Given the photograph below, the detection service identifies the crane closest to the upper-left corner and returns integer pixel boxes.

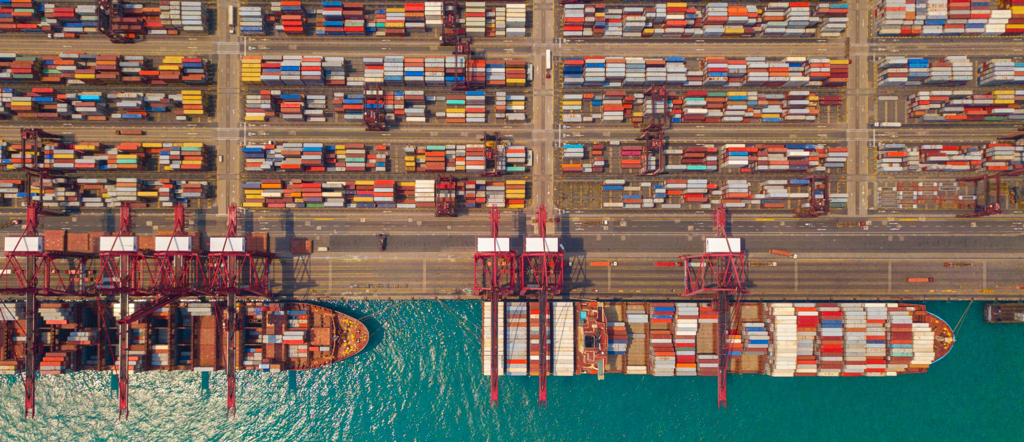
[97,0,135,43]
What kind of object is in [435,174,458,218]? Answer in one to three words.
crane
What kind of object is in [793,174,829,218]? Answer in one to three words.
crane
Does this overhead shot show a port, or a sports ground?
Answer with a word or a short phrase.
port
